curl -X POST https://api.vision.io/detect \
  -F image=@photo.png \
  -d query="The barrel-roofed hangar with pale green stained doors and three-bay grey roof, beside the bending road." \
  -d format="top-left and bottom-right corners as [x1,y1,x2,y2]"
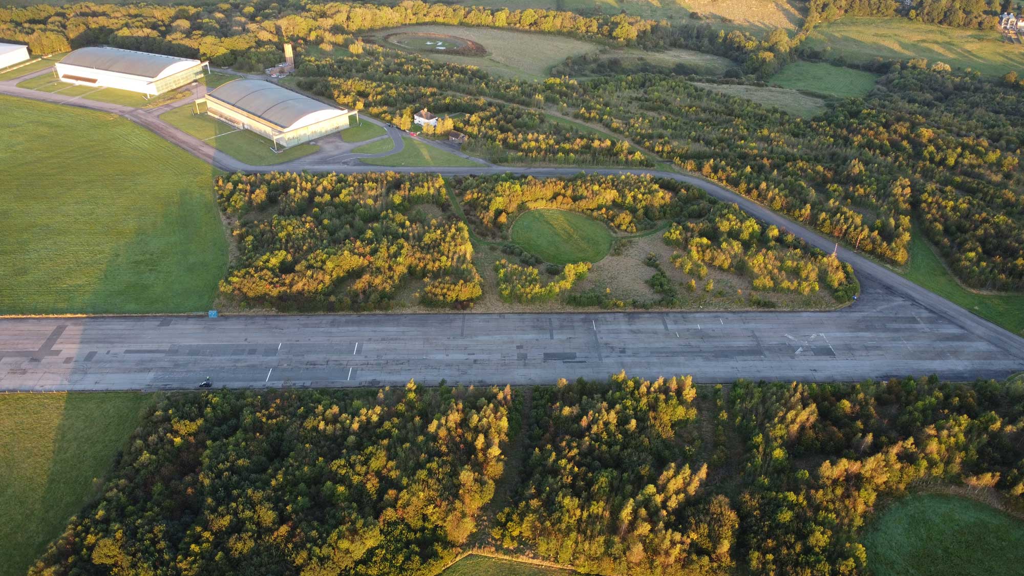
[191,82,360,151]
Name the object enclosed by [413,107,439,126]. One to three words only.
house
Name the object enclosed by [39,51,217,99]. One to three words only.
hangar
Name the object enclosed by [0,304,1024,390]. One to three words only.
runway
